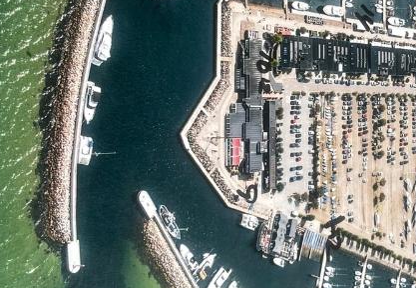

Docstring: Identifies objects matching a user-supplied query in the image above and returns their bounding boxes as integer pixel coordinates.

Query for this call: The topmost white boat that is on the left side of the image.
[94,14,112,66]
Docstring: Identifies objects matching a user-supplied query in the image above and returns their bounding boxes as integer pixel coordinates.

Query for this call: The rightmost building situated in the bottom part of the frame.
[302,229,331,249]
